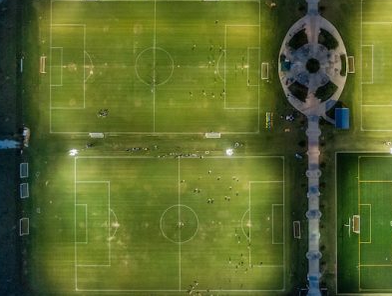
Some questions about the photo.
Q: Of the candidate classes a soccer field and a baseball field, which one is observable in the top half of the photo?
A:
soccer field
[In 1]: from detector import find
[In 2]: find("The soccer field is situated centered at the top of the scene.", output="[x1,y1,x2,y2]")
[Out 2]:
[50,0,260,133]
